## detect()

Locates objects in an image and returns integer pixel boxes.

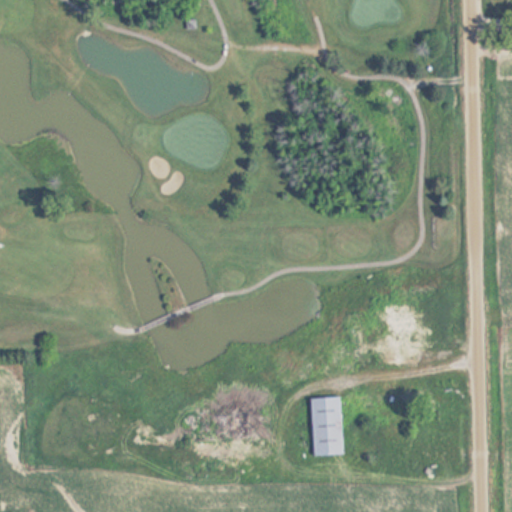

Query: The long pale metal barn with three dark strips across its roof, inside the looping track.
[311,396,344,458]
